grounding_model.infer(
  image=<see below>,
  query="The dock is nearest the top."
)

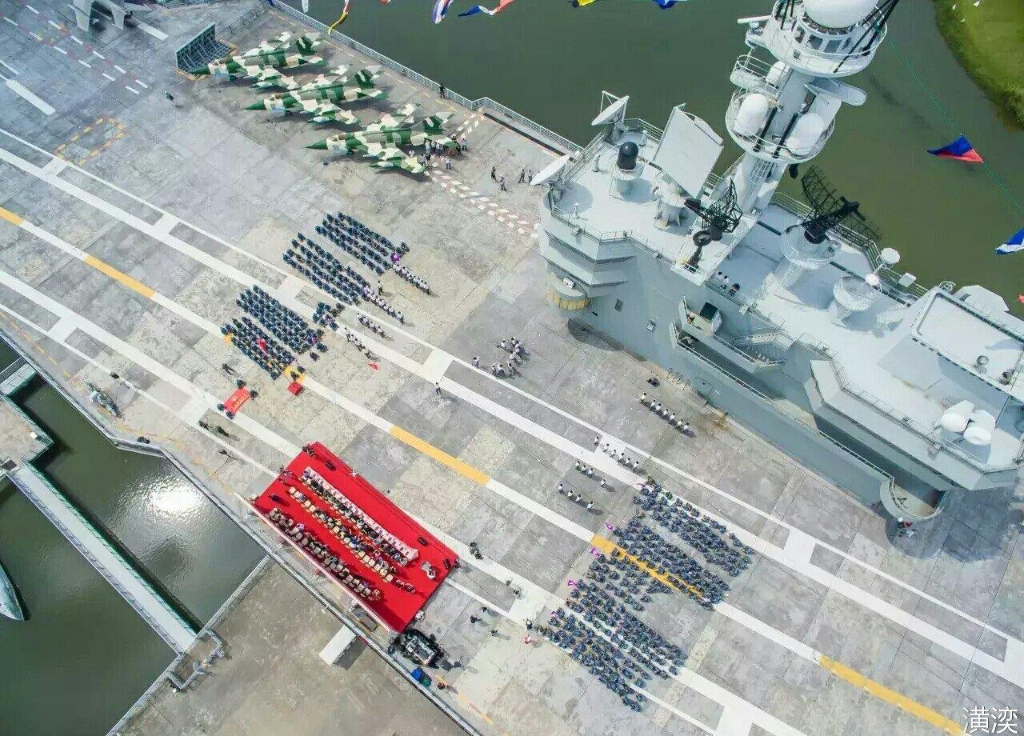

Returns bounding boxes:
[0,358,66,493]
